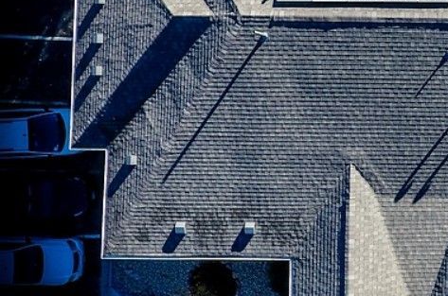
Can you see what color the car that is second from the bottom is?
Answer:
black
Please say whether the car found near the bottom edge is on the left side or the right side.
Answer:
left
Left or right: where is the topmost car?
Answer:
left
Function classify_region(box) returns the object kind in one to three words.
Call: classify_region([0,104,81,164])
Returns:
car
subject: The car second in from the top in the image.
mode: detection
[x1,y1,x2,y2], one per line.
[0,174,91,234]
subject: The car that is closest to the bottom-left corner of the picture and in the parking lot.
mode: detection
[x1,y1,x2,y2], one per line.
[0,233,88,295]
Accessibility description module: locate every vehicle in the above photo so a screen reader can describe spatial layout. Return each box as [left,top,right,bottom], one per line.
[0,174,91,234]
[0,233,88,295]
[0,104,81,164]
